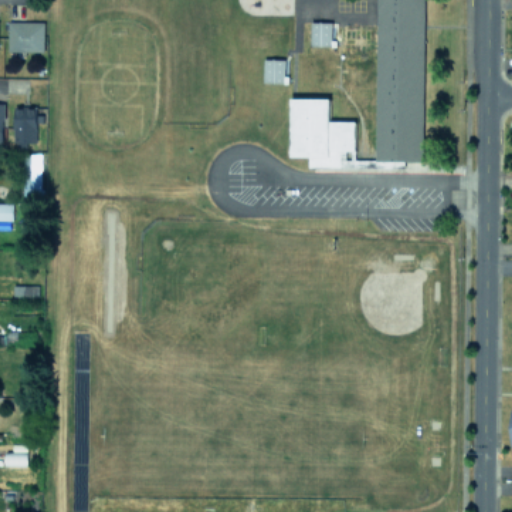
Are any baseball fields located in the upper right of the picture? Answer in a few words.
No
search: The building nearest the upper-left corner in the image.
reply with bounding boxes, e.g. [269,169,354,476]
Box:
[9,22,46,53]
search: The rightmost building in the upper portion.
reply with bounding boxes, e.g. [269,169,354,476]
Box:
[378,0,426,162]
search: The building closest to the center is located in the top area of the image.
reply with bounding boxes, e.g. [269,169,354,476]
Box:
[290,100,358,169]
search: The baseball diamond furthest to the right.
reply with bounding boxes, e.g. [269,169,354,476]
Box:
[360,270,427,336]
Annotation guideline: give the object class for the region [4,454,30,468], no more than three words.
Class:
house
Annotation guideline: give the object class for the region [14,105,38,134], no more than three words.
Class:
house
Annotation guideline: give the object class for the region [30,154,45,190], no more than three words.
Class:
shed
